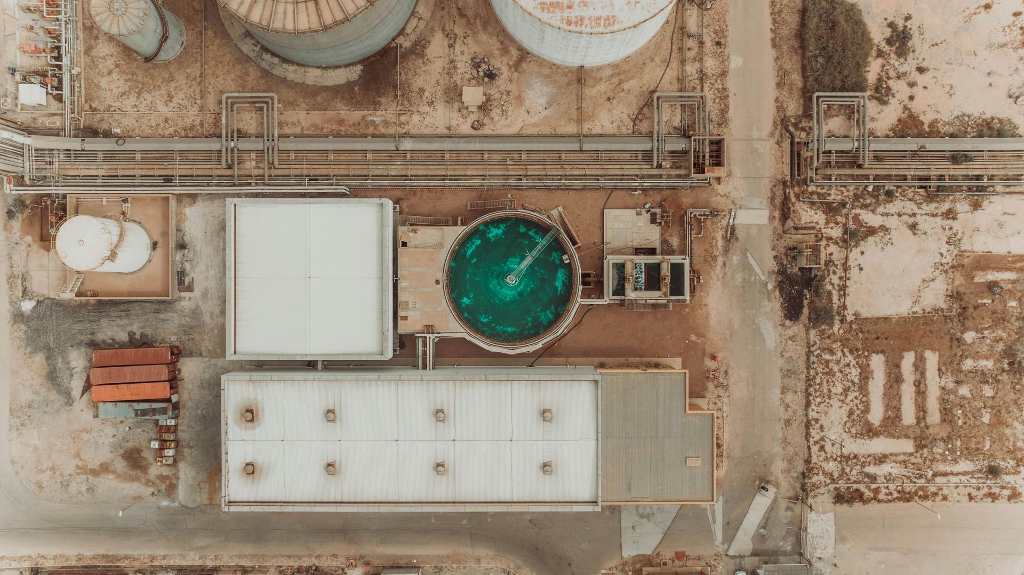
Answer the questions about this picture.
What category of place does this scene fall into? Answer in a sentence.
This looks like an industrial area.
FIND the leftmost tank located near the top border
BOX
[86,0,189,65]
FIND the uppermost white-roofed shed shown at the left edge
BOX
[19,84,53,107]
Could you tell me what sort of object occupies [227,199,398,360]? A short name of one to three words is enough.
warehouse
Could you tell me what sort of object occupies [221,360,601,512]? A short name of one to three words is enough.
building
